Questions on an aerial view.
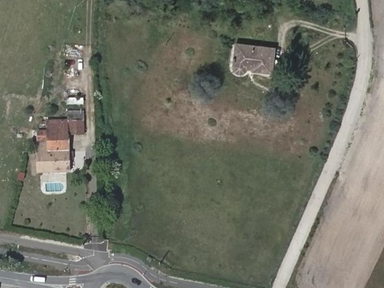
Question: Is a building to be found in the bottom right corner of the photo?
No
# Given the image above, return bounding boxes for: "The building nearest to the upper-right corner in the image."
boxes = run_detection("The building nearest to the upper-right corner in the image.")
[231,42,276,76]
